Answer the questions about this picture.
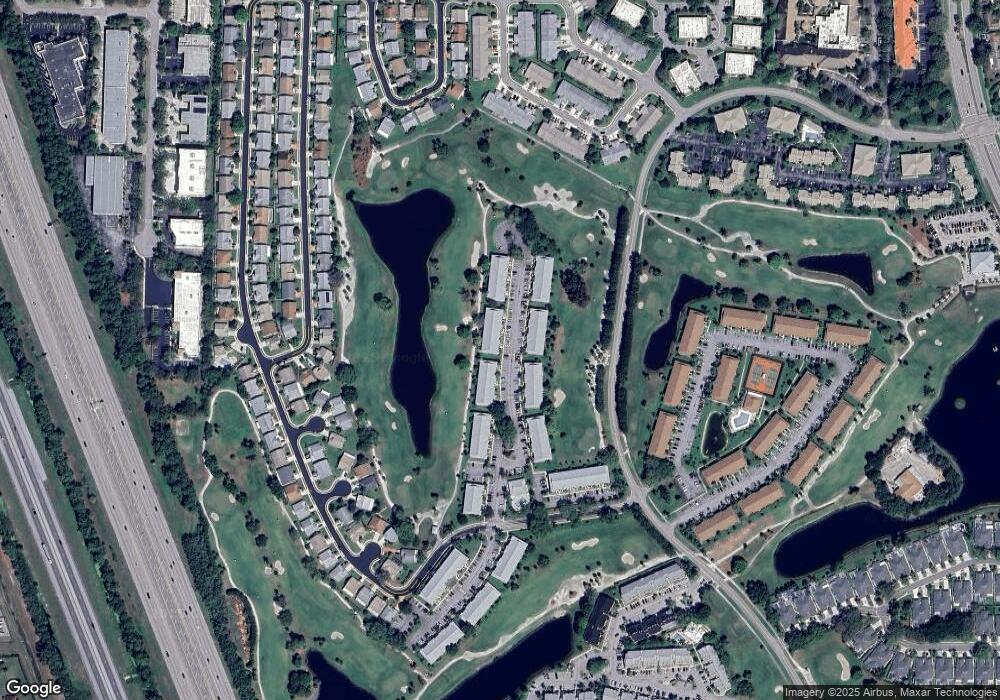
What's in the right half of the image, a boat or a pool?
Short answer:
pool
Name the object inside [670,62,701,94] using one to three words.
building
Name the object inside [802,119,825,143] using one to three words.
swimming pool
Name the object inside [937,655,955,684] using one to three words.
house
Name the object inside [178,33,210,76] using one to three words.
building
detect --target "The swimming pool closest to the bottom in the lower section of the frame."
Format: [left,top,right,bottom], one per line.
[671,622,710,644]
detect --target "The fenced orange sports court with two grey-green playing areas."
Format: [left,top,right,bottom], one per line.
[745,355,782,396]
